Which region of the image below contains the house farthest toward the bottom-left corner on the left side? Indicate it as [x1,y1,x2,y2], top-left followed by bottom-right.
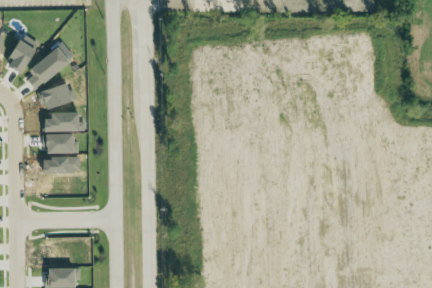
[46,268,82,288]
